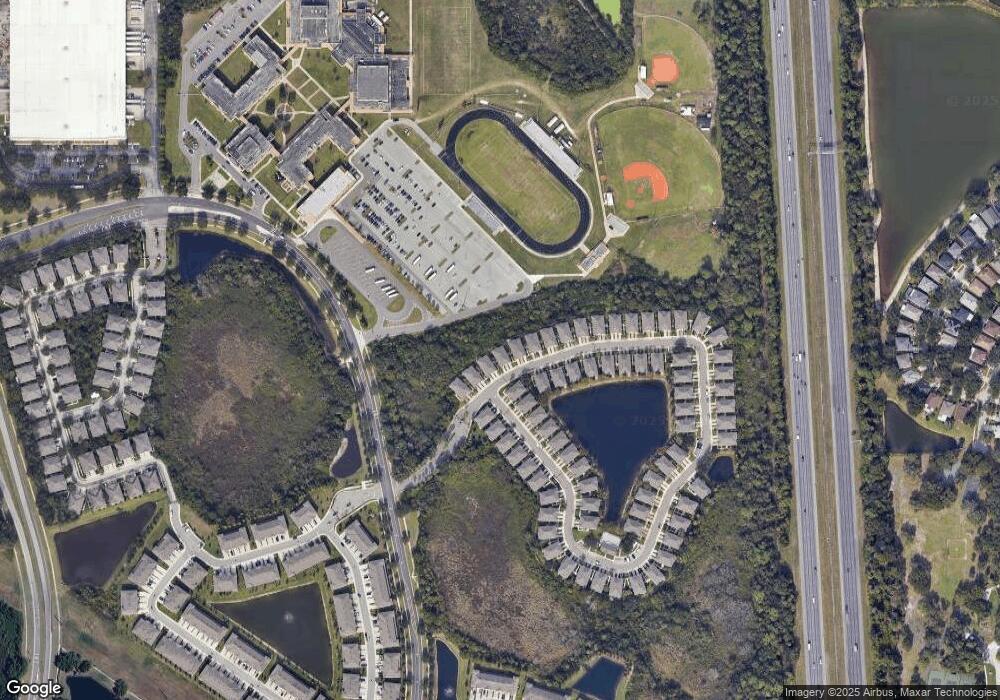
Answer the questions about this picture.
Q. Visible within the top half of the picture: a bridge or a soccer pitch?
soccer pitch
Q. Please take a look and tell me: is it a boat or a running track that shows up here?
running track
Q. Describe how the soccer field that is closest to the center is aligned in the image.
on a diagonal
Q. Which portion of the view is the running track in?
top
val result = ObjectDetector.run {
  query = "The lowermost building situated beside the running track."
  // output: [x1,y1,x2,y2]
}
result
[577,243,607,273]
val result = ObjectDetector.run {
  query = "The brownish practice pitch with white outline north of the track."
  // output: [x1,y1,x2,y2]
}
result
[421,4,517,96]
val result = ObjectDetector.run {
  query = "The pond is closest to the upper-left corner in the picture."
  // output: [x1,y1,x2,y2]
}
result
[175,227,295,286]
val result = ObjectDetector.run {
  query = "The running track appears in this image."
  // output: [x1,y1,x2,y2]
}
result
[441,108,591,254]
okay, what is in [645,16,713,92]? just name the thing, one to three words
baseball field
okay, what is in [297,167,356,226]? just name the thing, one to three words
building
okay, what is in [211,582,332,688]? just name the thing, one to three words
pond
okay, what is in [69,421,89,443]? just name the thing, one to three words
house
